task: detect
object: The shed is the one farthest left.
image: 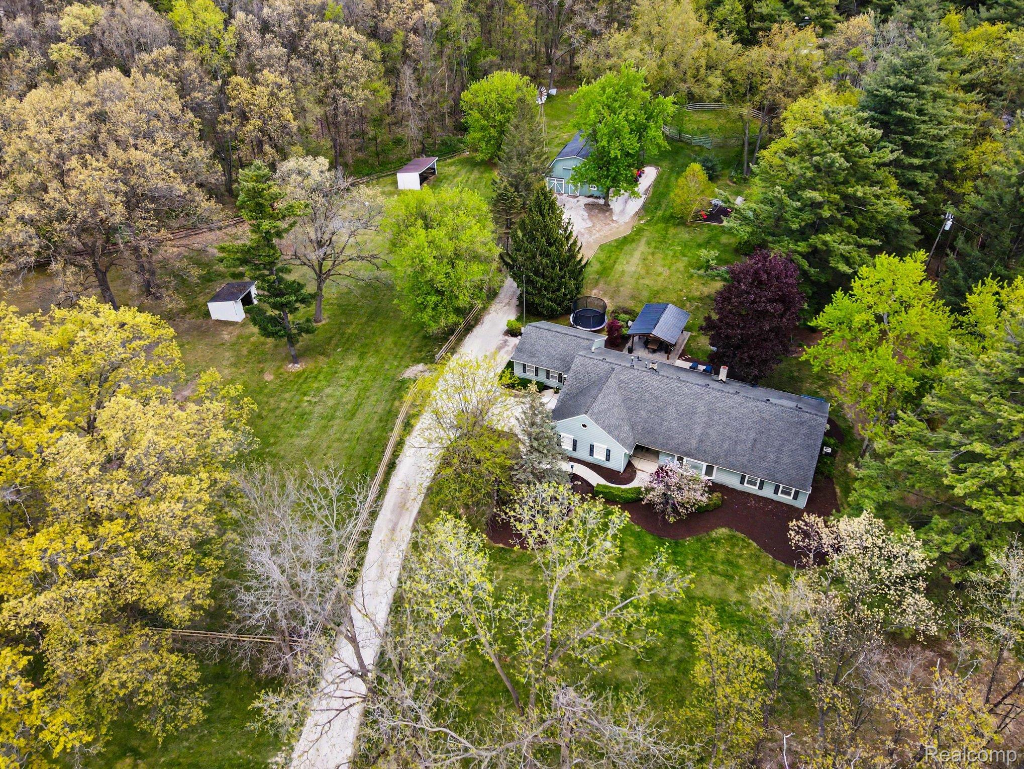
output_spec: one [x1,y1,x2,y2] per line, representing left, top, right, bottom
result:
[203,280,258,321]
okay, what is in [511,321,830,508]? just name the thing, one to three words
house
